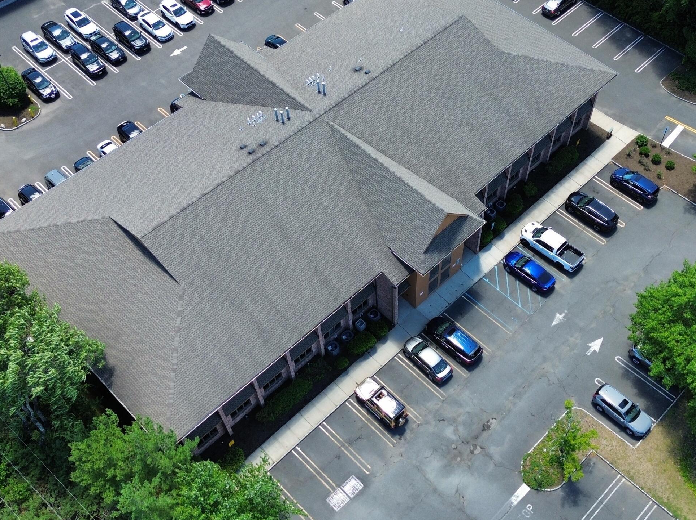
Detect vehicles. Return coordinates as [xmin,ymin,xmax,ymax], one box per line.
[155,0,194,29]
[401,337,456,388]
[263,35,285,49]
[542,0,576,16]
[180,0,213,15]
[168,103,178,112]
[60,5,99,39]
[93,138,116,156]
[422,316,483,370]
[67,42,106,77]
[114,120,140,141]
[40,167,65,188]
[89,32,128,63]
[521,223,589,277]
[135,11,173,41]
[111,17,150,52]
[39,21,76,52]
[18,30,56,63]
[106,0,141,19]
[69,157,89,172]
[627,337,662,378]
[589,386,651,441]
[22,70,59,103]
[351,375,409,430]
[565,192,620,236]
[0,199,12,217]
[503,252,557,296]
[606,164,659,203]
[13,183,39,204]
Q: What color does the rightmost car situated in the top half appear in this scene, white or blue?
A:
blue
